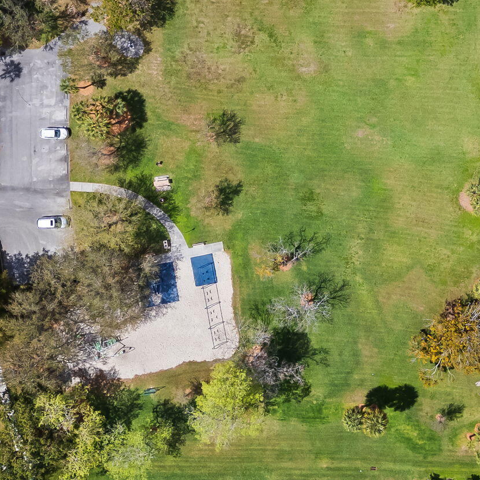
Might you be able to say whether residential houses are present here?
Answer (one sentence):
No, there isn't any residential house down there.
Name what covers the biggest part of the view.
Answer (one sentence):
What you mostly see from above here is grass.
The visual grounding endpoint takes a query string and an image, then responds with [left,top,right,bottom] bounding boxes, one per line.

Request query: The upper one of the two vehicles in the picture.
[39,127,69,141]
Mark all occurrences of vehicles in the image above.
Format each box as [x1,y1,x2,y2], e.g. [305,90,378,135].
[39,127,69,141]
[36,216,68,230]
